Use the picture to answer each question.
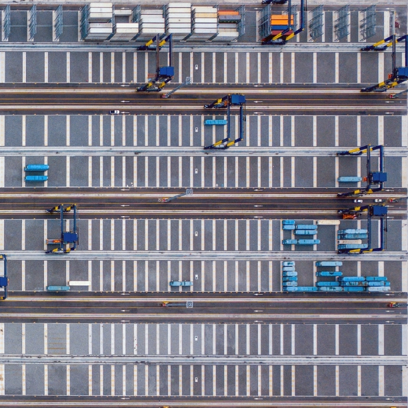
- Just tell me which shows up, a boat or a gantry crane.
gantry crane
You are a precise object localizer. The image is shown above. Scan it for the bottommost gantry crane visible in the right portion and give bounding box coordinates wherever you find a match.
[338,205,387,256]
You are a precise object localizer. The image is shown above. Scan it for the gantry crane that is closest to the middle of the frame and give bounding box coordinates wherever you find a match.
[203,94,246,151]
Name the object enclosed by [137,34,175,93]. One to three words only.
container crane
